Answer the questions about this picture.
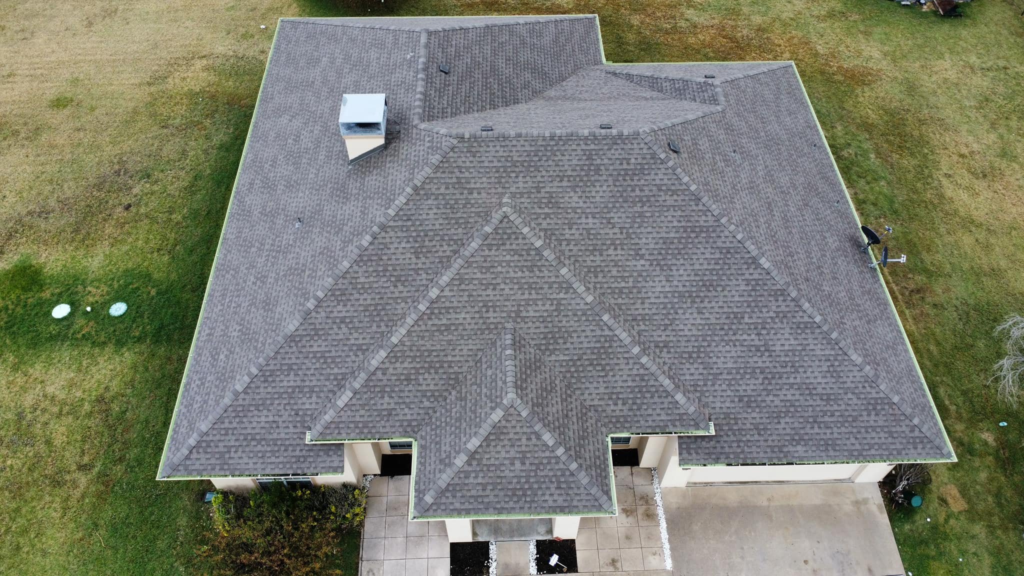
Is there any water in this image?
No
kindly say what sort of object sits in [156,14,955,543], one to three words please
house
